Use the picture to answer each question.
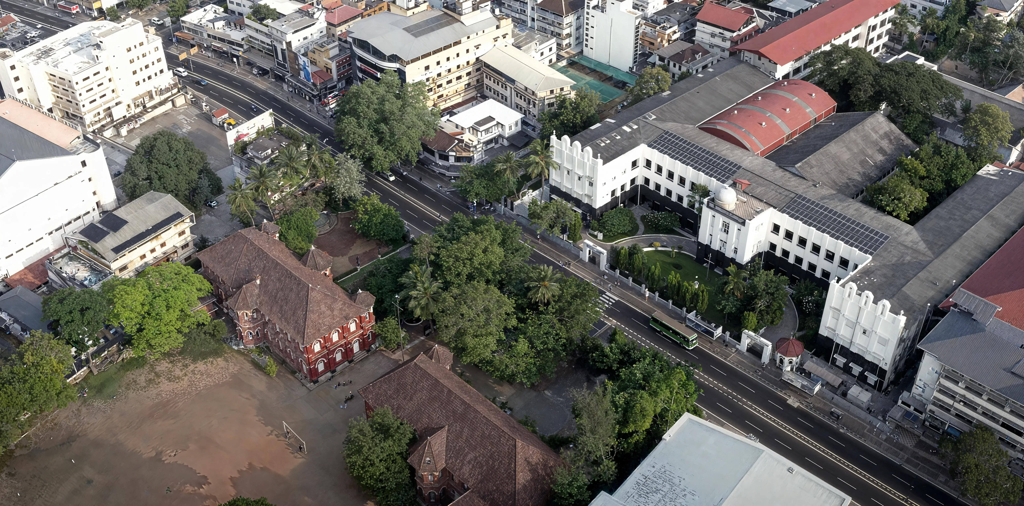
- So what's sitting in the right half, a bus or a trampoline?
bus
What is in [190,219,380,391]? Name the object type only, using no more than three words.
building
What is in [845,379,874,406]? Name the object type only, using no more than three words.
building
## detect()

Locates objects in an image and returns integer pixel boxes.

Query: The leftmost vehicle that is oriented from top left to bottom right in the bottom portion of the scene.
[650,311,699,348]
